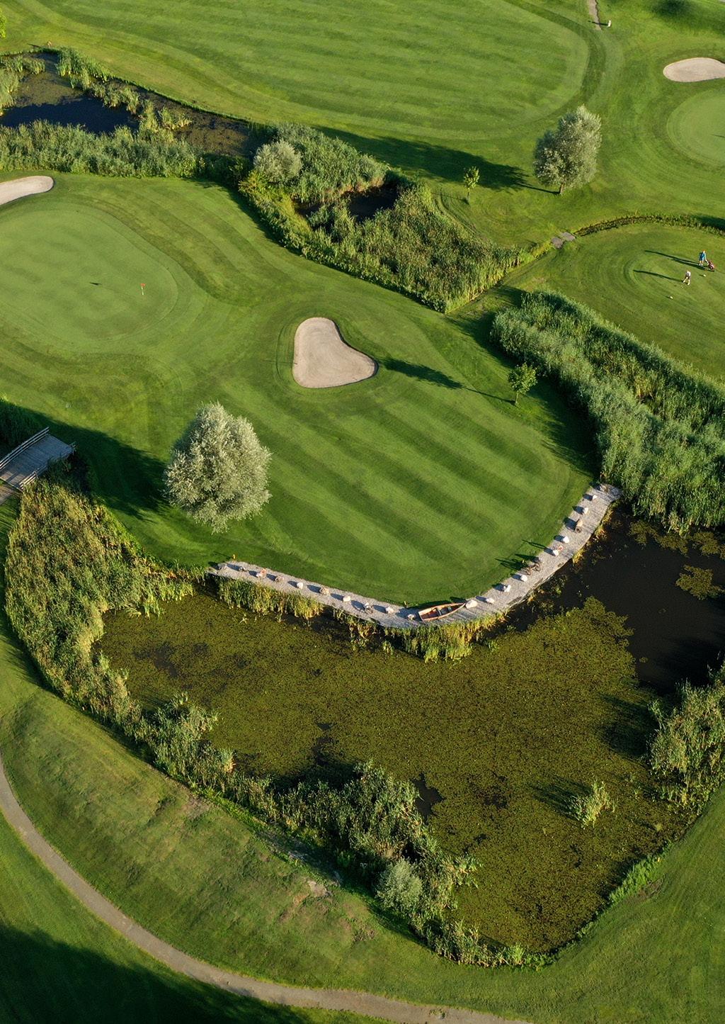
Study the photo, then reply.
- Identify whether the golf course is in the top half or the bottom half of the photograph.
top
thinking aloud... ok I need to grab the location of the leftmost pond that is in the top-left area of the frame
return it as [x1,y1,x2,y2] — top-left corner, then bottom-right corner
[0,52,265,162]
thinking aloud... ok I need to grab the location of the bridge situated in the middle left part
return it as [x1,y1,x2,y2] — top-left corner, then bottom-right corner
[0,424,73,492]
